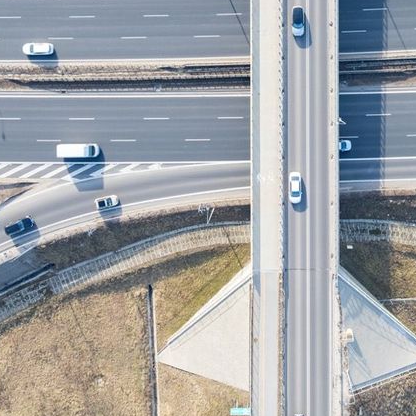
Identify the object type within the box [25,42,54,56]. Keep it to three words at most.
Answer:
vehicle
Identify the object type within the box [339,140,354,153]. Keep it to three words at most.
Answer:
vehicle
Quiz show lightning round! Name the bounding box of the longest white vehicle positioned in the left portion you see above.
[55,143,102,159]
